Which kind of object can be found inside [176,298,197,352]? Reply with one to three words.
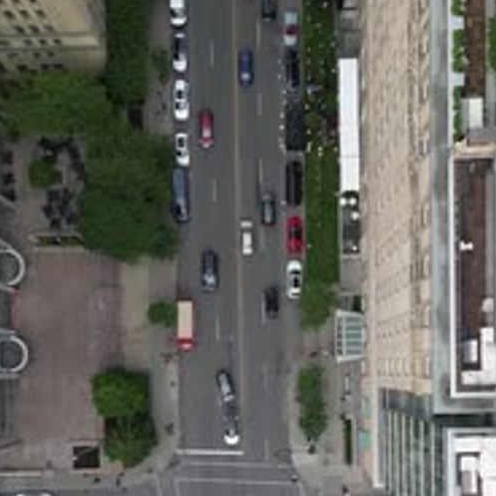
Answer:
vehicle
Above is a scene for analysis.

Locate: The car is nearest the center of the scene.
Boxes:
[240,221,255,256]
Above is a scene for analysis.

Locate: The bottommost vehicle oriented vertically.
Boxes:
[224,404,240,444]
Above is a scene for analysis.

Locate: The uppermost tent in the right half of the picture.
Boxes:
[336,58,357,199]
